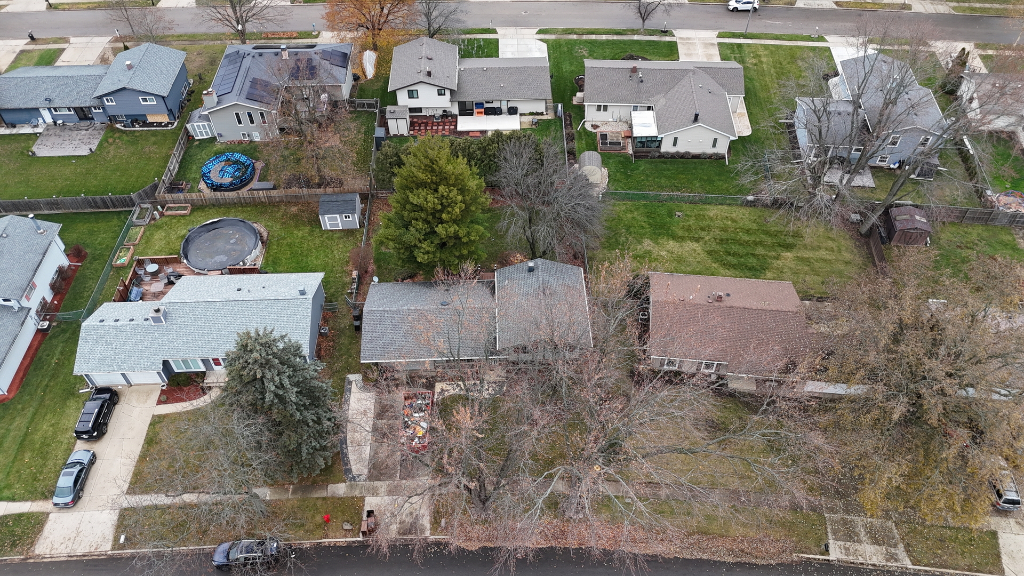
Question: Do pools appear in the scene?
Yes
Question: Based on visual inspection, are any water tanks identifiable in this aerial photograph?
No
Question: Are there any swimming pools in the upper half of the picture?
Yes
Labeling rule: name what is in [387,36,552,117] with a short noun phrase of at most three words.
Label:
house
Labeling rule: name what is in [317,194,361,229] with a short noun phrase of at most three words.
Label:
shed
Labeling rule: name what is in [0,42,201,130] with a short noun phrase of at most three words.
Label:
house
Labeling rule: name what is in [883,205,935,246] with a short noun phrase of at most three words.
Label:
shed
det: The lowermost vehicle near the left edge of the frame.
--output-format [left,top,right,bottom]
[48,448,97,506]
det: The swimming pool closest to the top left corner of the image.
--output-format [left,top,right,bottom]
[199,149,257,188]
